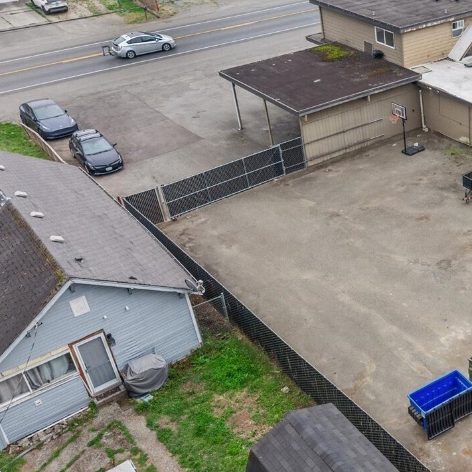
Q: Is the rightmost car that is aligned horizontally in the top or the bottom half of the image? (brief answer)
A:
top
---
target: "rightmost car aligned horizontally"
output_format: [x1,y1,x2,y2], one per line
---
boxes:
[104,31,177,58]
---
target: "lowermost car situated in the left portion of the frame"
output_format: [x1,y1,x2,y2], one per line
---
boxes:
[60,127,123,173]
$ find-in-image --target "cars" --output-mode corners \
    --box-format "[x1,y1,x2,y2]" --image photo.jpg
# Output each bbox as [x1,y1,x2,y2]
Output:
[21,92,79,137]
[60,127,123,173]
[32,0,66,13]
[104,31,177,58]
